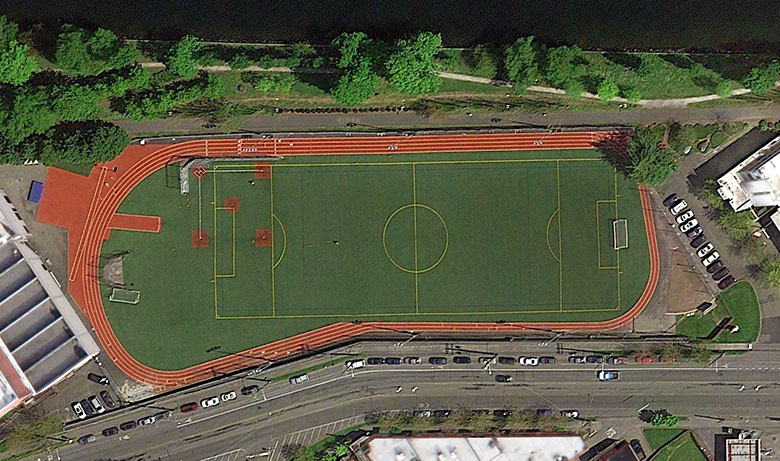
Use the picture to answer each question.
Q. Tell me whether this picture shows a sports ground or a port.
sports ground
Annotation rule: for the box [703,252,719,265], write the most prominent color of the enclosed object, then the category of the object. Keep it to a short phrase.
white vehicle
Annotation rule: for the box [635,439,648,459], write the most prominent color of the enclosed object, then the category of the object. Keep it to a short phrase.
black vehicle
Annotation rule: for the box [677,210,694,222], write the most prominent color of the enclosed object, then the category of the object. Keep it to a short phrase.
white vehicle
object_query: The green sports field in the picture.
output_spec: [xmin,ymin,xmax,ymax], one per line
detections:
[99,149,650,371]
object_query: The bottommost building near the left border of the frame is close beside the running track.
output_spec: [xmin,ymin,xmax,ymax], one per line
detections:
[0,242,100,419]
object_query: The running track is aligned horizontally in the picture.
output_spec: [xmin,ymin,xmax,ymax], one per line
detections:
[37,131,660,394]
